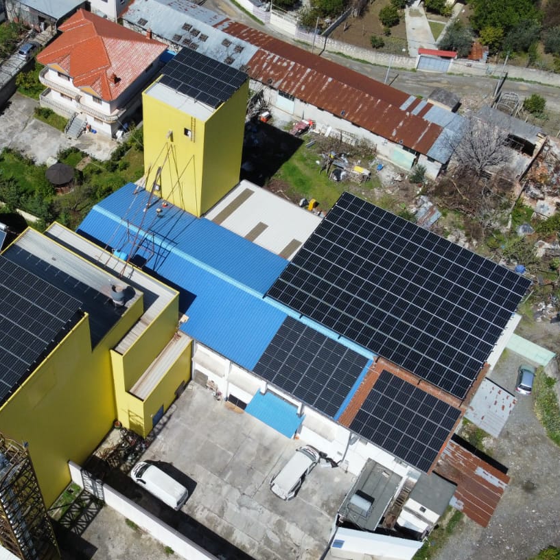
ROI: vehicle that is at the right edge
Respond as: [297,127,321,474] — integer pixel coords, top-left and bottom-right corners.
[512,362,541,400]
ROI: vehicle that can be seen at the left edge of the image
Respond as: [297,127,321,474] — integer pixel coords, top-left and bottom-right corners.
[13,36,40,61]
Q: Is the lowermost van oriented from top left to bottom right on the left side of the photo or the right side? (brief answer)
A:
left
